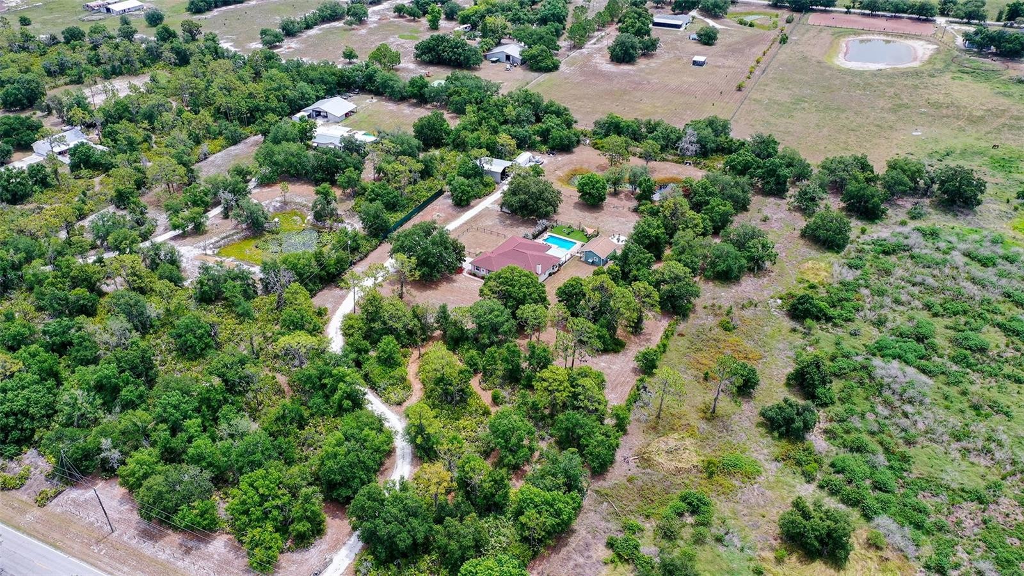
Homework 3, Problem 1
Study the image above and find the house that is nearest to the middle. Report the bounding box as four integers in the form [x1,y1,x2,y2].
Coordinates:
[469,235,560,282]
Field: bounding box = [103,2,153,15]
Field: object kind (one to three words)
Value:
barn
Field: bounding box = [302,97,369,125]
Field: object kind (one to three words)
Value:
building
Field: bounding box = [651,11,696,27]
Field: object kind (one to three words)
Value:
house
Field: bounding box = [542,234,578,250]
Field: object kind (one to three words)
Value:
swimming pool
